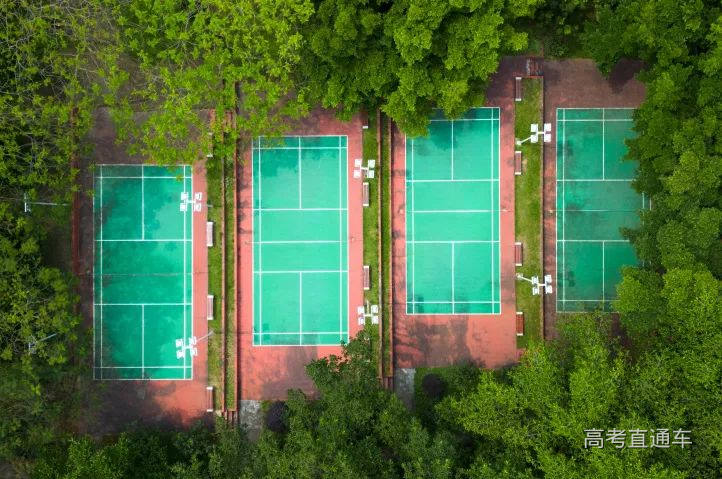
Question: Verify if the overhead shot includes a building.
No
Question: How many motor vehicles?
0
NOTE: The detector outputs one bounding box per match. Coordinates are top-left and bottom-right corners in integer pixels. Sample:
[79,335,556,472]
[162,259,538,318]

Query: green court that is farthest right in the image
[544,58,673,346]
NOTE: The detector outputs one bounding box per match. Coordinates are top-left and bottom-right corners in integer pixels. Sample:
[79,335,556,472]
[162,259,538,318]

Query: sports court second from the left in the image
[238,109,362,400]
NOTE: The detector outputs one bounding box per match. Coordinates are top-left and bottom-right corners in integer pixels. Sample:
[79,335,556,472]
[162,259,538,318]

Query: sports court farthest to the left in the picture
[80,109,207,435]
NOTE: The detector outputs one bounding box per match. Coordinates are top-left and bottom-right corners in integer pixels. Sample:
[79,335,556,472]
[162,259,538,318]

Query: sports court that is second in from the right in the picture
[392,56,527,368]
